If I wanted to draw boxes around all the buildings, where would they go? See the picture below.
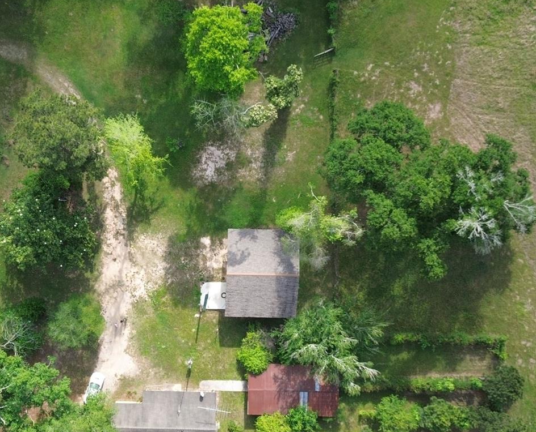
[106,389,217,432]
[225,229,299,317]
[246,364,338,417]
